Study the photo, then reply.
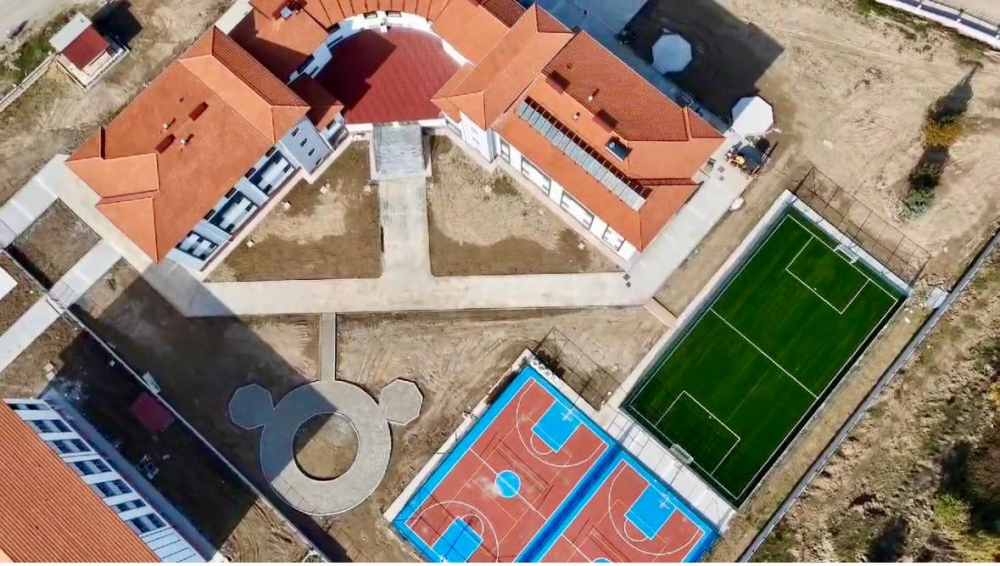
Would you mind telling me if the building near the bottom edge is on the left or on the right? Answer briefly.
left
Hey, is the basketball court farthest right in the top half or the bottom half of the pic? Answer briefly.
bottom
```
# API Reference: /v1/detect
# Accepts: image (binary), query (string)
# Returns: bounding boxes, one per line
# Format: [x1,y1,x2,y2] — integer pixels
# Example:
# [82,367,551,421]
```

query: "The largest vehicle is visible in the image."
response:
[722,139,758,182]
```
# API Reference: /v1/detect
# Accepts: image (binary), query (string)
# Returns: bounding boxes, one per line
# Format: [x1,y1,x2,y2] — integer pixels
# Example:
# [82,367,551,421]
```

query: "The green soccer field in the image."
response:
[617,204,907,509]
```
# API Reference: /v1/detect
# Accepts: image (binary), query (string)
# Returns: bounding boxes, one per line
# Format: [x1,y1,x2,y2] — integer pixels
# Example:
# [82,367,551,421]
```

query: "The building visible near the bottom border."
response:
[0,391,211,566]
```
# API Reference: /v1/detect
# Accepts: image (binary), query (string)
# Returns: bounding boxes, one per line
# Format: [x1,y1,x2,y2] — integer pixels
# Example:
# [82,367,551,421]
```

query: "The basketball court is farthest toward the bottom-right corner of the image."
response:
[520,446,719,566]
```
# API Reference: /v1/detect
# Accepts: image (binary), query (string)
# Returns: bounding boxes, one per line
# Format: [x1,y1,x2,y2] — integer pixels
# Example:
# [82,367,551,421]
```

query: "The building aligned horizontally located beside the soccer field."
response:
[66,0,724,274]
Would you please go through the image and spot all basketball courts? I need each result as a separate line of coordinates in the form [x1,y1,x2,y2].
[393,365,621,566]
[520,446,719,566]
